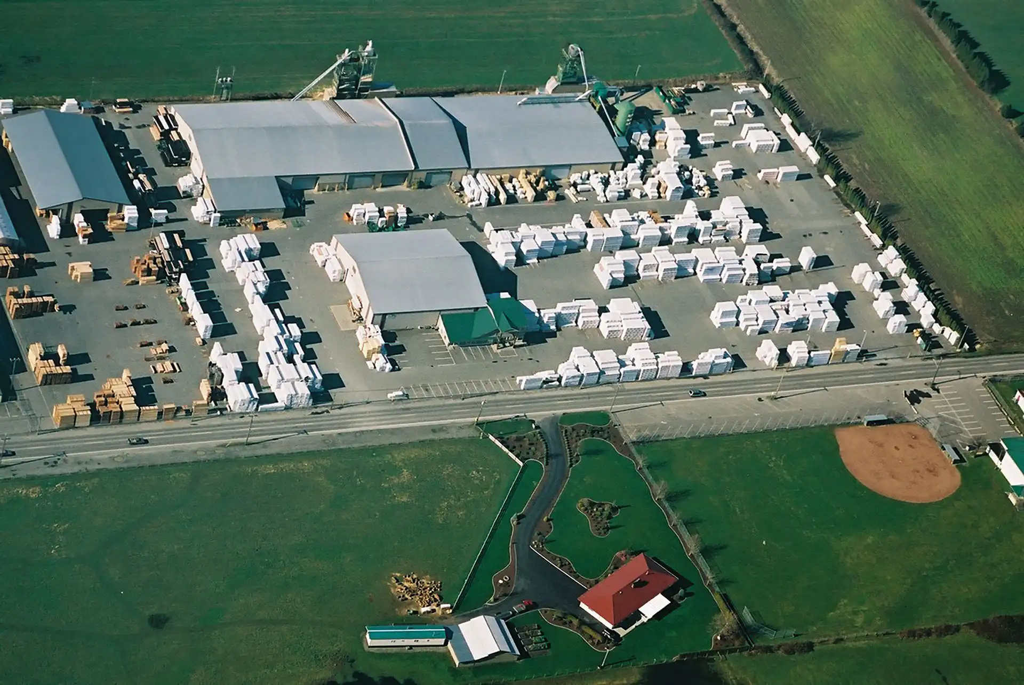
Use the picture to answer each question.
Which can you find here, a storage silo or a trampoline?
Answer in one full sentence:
Looking from above, you can make out a storage silo.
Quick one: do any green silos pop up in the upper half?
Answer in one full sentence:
Yes, looking in the upper half, one can make out a green silo.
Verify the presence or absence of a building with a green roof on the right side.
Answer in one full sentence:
Yes, a building with a green roof can be seen on the right side.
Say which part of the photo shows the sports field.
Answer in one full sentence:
The sports field appears toward the bottom right of the photo.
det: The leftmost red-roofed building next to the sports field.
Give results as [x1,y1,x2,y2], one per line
[577,554,678,630]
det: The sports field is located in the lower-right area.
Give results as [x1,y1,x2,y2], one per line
[639,425,1024,647]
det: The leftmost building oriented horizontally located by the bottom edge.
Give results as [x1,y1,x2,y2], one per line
[365,625,445,653]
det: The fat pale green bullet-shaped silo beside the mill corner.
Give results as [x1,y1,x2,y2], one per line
[614,97,641,132]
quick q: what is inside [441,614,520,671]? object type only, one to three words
barn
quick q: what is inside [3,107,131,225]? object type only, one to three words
shed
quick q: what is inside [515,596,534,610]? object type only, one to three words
vehicle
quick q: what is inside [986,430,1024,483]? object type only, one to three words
building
